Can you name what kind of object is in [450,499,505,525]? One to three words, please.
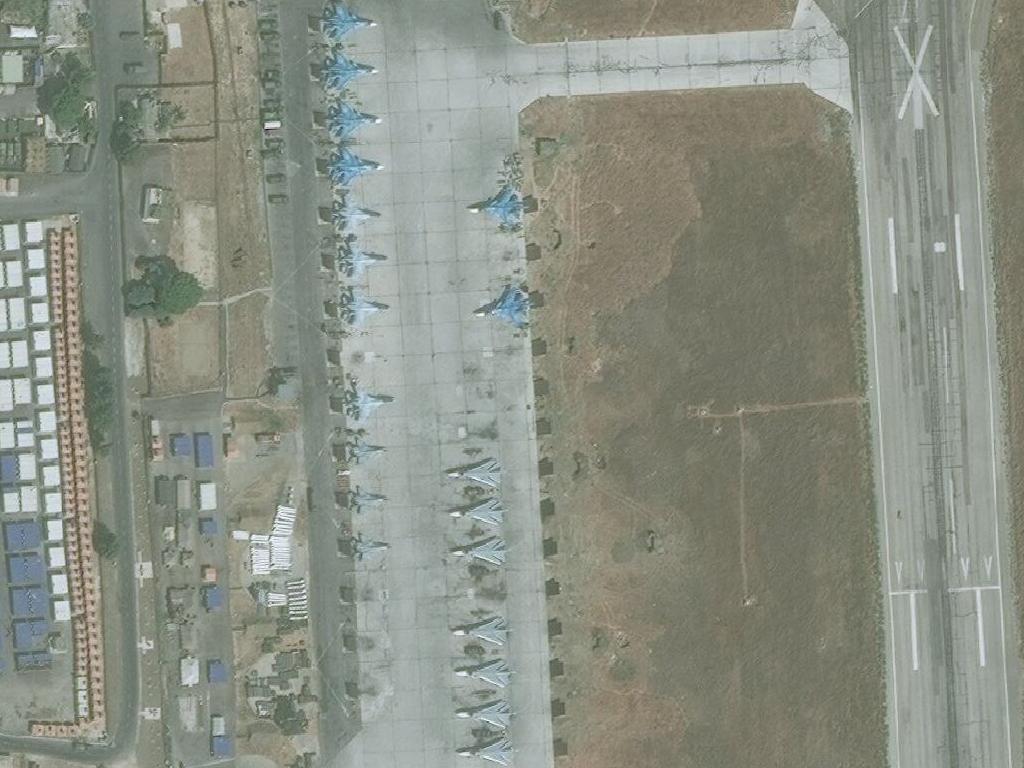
airplane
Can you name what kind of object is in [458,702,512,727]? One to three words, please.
airplane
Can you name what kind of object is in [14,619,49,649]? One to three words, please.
building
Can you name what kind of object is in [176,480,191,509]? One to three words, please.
shed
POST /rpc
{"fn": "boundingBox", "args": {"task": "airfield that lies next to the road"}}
[257,0,1023,768]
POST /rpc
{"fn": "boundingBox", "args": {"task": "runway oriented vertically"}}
[811,0,1023,768]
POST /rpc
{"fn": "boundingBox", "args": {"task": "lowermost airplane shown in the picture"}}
[457,740,513,766]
